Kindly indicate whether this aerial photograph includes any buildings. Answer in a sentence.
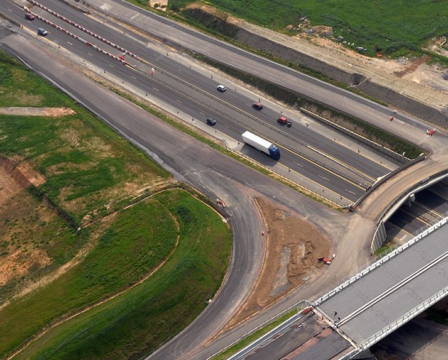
No, there appears to be no building in this shot.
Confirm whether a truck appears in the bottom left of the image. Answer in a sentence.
No, I see no truck in the bottom left of the image.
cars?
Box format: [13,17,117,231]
[216,84,227,92]
[24,12,33,19]
[253,102,264,109]
[38,27,47,34]
[206,116,216,124]
[277,116,287,124]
